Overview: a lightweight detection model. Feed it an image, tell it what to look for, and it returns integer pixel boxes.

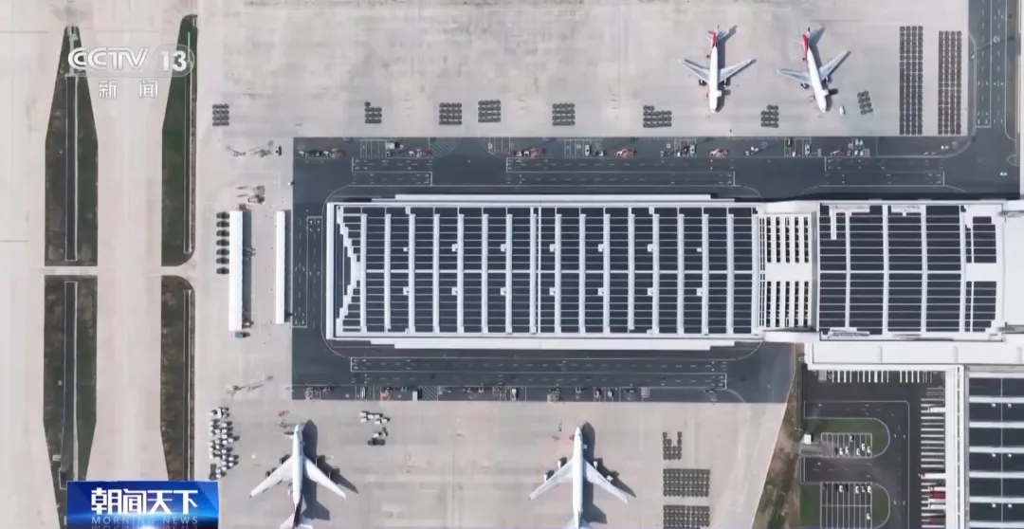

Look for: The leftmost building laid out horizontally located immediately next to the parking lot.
[327,195,765,349]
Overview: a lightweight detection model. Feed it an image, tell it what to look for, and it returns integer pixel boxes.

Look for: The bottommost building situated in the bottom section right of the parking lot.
[937,366,1024,529]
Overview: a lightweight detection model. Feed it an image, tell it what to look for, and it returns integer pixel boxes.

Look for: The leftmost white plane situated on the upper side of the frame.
[679,27,750,112]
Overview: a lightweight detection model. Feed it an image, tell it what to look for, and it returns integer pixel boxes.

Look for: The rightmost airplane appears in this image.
[778,29,848,112]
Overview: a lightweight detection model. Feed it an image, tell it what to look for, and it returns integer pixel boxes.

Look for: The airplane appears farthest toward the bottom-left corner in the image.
[248,423,345,529]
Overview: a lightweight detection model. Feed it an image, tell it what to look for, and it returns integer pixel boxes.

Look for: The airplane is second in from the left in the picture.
[530,425,627,529]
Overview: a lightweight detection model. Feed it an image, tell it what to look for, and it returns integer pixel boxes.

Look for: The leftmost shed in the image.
[229,210,246,330]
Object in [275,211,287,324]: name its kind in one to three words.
shed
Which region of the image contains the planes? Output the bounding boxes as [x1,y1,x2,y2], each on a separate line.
[778,29,848,112]
[679,27,750,112]
[248,423,345,529]
[530,425,627,529]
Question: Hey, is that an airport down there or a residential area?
airport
